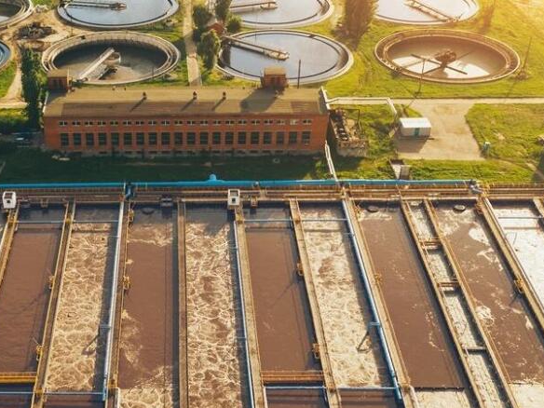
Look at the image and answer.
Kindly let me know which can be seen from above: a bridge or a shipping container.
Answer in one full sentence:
I can see a bridge in this picture.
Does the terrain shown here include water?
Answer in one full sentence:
Yes, there is water in the image.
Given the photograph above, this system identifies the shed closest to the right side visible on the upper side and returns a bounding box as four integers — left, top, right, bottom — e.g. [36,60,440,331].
[397,112,432,135]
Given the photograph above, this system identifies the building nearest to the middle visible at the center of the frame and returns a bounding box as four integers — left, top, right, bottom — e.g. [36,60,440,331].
[227,185,242,207]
